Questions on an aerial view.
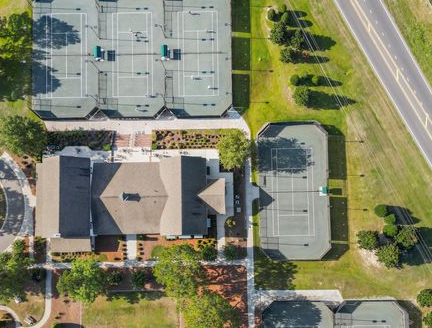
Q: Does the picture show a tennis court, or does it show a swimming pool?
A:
tennis court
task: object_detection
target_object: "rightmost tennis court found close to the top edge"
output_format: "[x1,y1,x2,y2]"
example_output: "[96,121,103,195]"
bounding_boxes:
[165,0,231,116]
